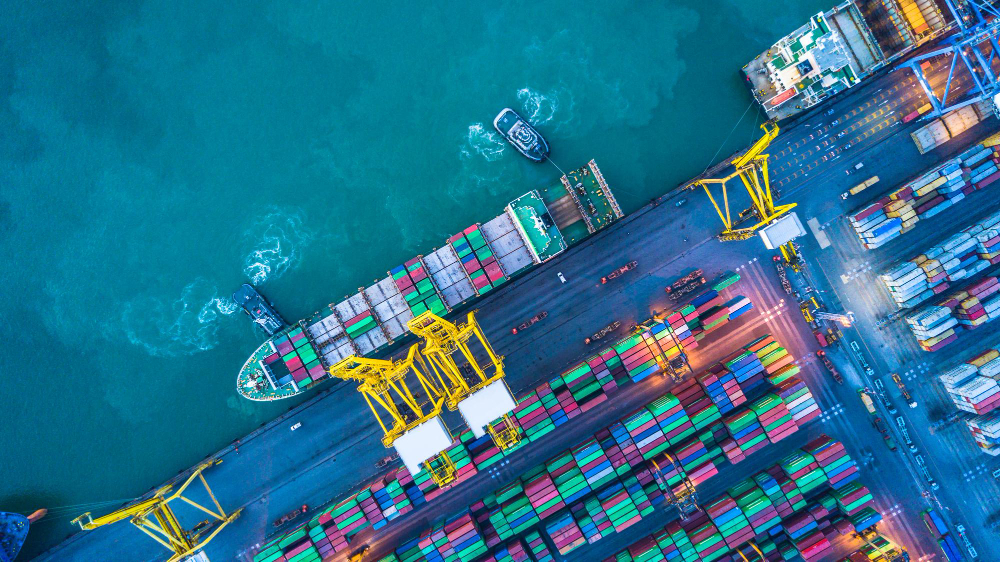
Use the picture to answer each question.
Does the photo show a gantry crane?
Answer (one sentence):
Yes, there's a gantry crane here.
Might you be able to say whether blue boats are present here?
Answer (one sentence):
Yes, the picture does show a blue boat.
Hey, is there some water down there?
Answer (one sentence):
Yes, water shows up in the scene.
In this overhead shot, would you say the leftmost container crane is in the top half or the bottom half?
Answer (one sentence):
You can find the leftmost container crane in the bottom half.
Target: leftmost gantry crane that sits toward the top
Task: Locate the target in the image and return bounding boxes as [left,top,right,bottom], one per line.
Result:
[689,106,819,271]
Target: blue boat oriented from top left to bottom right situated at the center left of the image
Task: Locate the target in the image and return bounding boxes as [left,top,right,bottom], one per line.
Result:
[231,283,287,335]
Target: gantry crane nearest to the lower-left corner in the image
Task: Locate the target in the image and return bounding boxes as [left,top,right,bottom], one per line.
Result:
[61,464,243,562]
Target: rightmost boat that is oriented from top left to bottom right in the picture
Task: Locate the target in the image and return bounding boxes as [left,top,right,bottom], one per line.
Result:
[496,107,548,161]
